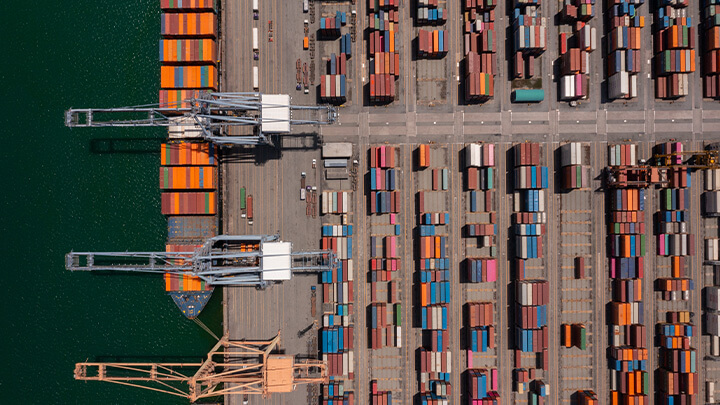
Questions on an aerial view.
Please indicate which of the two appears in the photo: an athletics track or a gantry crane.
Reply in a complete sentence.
I can see a gantry crane in this picture.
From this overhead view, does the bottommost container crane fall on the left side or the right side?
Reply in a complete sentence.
The bottommost container crane appears in the left half of the scene.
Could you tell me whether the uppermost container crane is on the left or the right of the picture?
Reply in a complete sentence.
The uppermost container crane sits on the left side.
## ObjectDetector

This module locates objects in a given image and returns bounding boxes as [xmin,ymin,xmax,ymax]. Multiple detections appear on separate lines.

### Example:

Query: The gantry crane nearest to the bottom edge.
[75,326,328,405]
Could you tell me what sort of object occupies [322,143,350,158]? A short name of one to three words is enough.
building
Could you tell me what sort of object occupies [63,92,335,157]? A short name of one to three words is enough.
container crane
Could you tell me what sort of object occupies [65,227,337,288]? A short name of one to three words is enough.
container crane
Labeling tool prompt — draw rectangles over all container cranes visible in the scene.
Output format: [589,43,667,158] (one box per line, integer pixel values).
[598,167,669,187]
[63,92,335,157]
[75,326,328,405]
[642,151,720,171]
[65,227,337,288]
